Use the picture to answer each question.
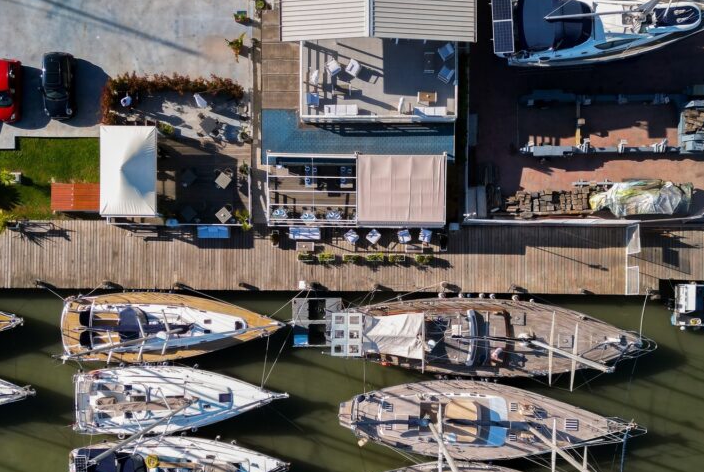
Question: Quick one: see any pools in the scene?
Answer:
Yes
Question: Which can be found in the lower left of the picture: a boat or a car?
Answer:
boat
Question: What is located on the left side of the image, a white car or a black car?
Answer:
black car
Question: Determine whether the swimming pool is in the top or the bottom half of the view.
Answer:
top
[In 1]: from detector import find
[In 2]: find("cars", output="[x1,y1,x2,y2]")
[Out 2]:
[0,59,24,124]
[37,51,79,121]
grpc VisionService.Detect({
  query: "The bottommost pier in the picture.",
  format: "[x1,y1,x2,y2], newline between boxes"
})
[292,296,349,347]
